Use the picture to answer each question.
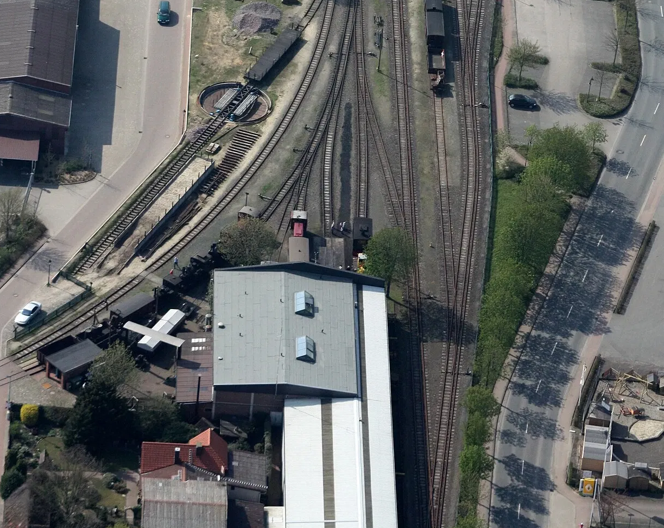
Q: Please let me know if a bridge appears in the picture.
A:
Yes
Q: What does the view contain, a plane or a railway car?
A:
railway car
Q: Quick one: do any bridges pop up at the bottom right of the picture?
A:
No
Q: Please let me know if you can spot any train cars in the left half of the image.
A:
Yes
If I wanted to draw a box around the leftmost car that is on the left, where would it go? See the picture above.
[17,301,42,324]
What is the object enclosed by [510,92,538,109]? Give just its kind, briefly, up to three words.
car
